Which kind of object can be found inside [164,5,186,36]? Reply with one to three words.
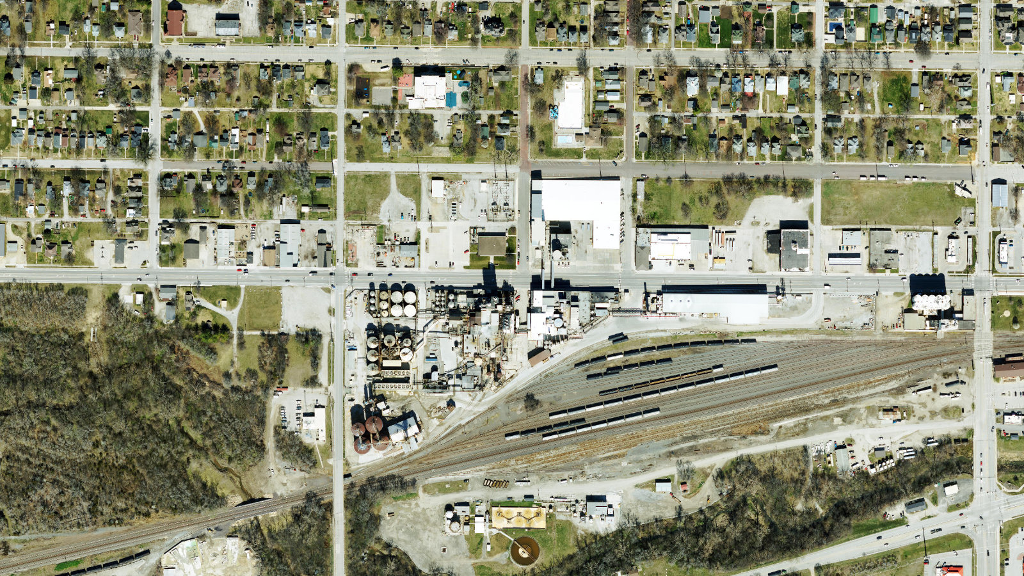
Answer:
building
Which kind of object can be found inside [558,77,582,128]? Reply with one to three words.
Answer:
building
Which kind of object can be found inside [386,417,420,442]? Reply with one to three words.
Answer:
shed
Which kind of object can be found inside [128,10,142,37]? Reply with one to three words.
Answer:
house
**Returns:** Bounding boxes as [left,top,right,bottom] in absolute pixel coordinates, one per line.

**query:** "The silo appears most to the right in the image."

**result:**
[913,295,952,315]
